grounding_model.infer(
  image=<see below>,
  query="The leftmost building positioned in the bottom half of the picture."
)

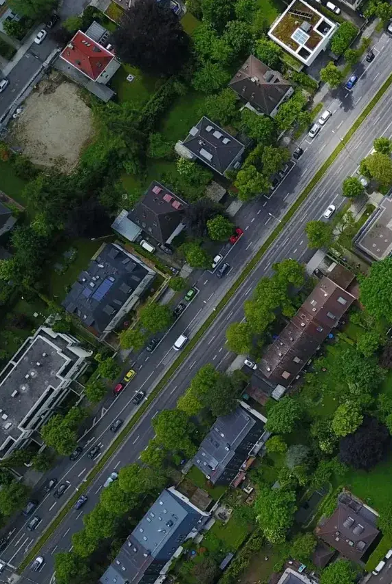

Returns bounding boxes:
[0,325,101,468]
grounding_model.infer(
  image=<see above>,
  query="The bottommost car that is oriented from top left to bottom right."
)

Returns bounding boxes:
[242,357,258,370]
